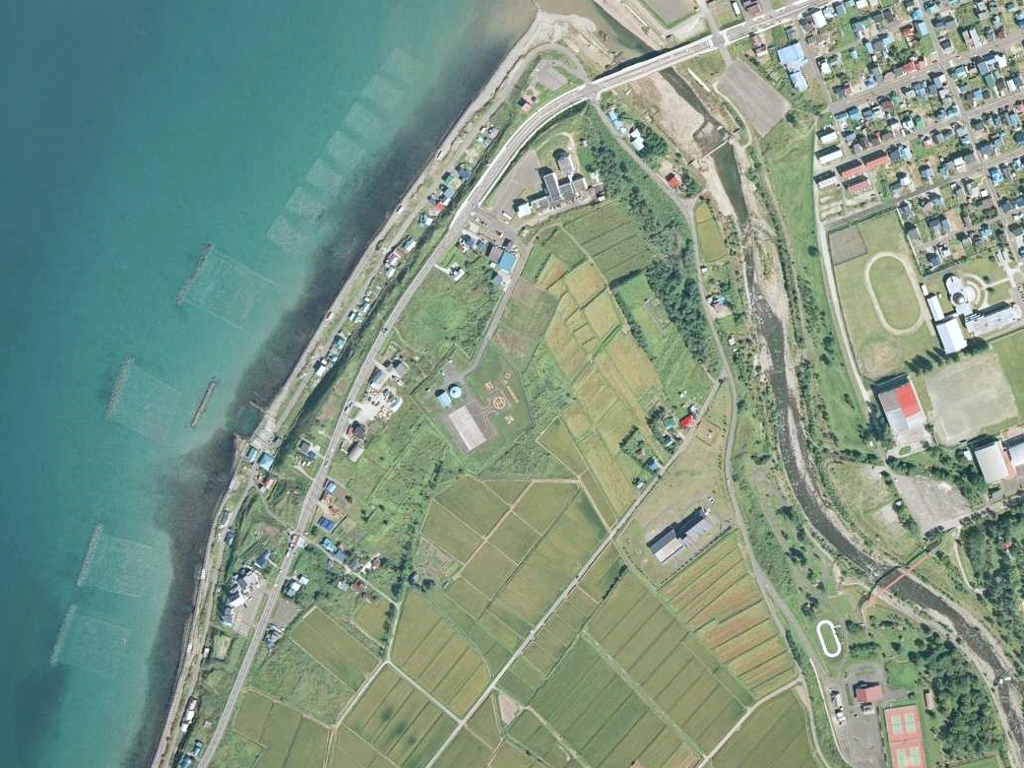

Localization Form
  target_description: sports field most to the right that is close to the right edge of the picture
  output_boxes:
[925,354,1018,445]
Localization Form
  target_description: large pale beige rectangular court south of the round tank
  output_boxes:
[449,406,485,450]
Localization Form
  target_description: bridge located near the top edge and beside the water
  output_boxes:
[587,35,719,98]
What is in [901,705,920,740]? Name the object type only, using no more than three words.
tennis court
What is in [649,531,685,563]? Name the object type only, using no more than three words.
shed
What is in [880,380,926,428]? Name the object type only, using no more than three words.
building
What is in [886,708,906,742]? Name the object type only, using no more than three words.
tennis court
